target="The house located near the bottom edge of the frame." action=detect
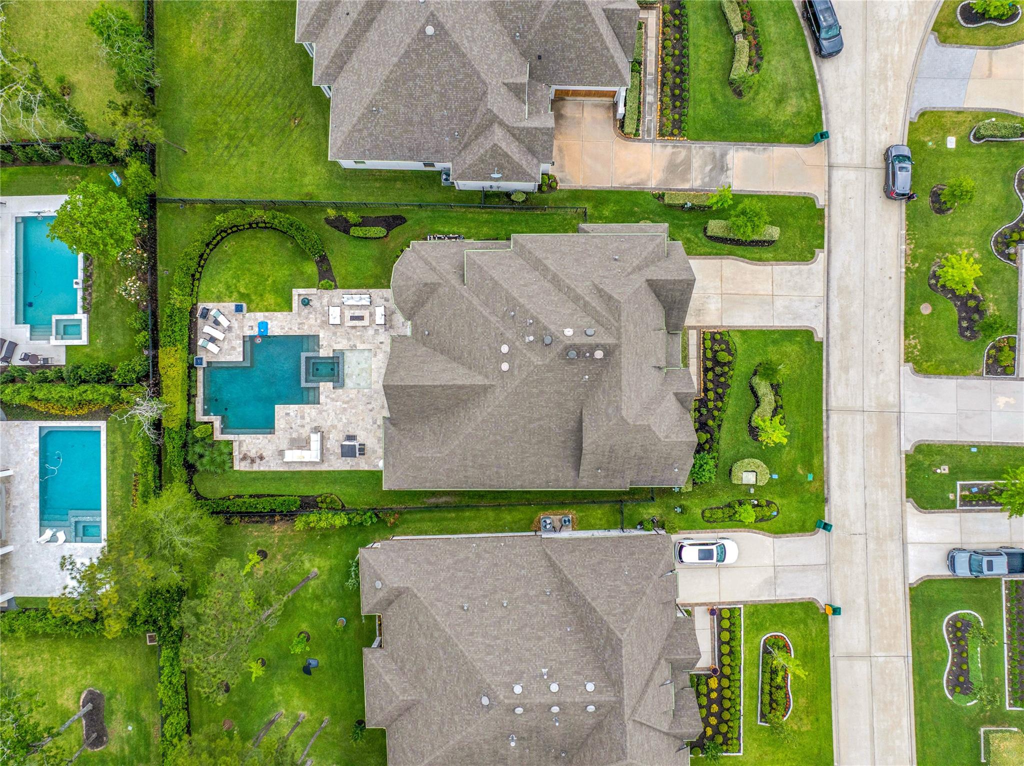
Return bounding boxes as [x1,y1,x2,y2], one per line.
[358,521,703,766]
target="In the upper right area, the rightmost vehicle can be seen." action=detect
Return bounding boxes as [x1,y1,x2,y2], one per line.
[883,144,915,198]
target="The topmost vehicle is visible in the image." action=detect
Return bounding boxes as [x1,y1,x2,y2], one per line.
[801,0,842,50]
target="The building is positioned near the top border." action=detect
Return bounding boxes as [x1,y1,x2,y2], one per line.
[294,0,640,189]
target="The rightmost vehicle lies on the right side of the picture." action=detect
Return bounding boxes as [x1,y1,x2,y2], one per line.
[947,550,1024,581]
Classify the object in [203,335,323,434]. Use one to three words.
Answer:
swimming pool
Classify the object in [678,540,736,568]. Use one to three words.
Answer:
car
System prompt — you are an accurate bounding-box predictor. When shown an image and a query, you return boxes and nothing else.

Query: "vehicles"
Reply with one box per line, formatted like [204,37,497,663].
[801,0,842,50]
[947,550,1024,581]
[678,540,736,568]
[883,144,915,198]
